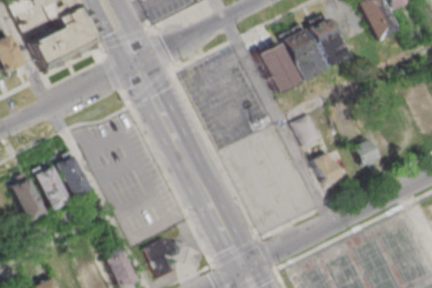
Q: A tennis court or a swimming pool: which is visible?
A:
tennis court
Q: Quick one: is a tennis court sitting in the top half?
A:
No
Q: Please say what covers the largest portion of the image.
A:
paved ground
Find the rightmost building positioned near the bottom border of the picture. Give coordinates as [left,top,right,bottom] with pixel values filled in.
[142,239,179,278]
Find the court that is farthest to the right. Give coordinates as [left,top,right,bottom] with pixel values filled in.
[384,226,427,282]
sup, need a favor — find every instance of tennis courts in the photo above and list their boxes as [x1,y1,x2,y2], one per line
[356,240,400,288]
[327,254,365,288]
[299,267,329,288]
[384,226,427,282]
